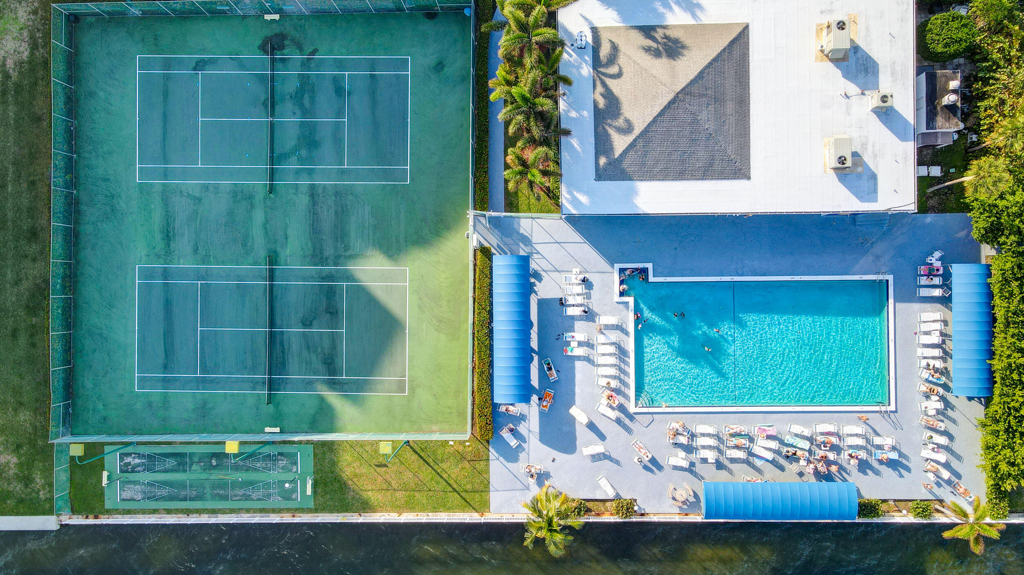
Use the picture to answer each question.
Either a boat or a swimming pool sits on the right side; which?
swimming pool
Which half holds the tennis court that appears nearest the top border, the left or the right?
left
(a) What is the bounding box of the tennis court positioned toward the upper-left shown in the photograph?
[73,12,473,226]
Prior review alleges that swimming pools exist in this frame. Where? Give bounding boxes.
[614,263,896,414]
